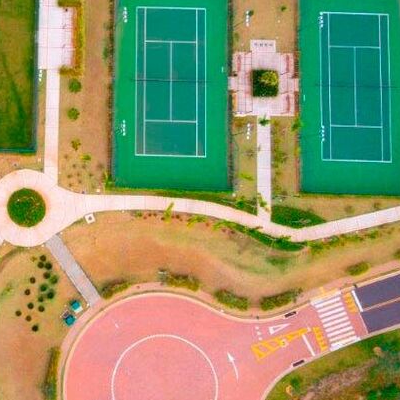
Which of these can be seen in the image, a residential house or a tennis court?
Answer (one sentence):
The image shows a tennis court.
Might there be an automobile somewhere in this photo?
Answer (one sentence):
No, this view has no automobile in it.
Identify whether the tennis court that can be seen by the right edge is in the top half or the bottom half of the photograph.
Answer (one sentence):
It is in the top half that the tennis court that can be seen by the right edge appears.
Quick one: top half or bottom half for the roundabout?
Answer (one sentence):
You can find the roundabout in the bottom half.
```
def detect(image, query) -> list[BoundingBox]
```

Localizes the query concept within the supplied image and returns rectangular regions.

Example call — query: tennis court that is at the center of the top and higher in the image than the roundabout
[115,0,230,191]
